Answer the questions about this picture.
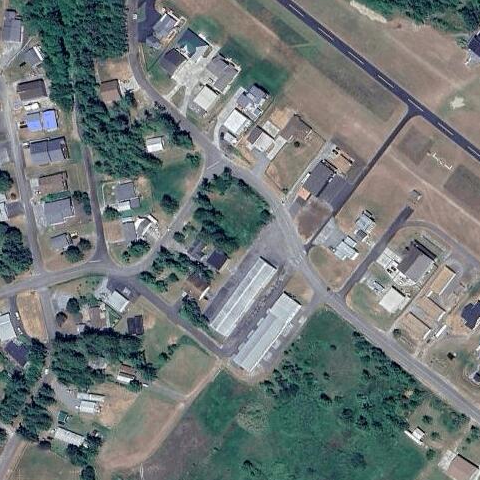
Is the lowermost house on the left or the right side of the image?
right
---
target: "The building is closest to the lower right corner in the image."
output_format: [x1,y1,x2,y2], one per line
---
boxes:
[447,454,478,480]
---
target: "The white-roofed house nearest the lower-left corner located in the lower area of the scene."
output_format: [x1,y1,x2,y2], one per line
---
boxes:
[55,426,86,448]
